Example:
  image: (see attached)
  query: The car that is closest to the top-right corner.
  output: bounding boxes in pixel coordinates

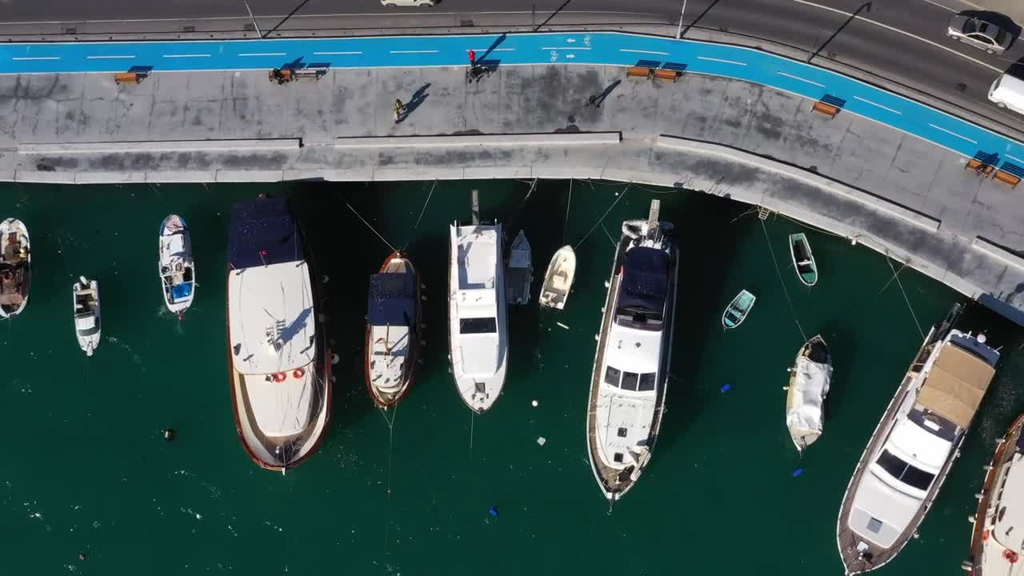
[948,14,1013,51]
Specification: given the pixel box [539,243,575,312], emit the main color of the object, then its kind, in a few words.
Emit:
white boat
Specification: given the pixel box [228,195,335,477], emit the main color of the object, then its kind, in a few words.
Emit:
white boat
